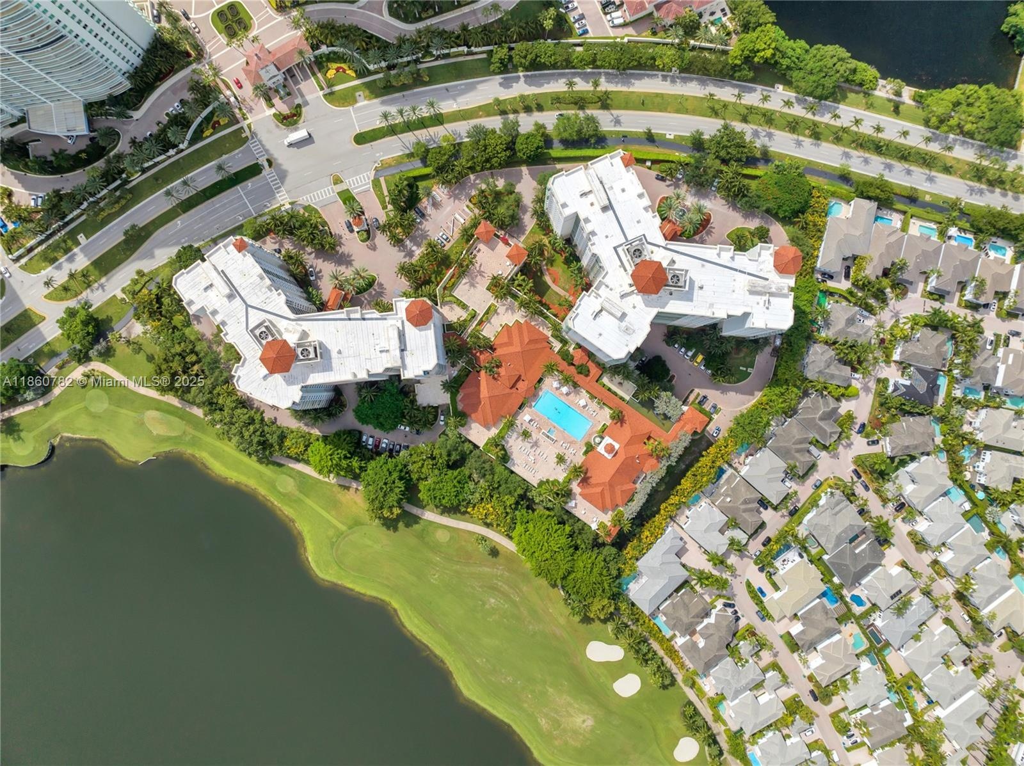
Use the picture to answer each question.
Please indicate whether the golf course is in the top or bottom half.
bottom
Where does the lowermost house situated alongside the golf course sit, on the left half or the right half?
right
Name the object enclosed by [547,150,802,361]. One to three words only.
building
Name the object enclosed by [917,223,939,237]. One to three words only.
swimming pool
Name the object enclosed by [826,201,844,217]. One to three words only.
swimming pool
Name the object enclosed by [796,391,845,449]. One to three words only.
house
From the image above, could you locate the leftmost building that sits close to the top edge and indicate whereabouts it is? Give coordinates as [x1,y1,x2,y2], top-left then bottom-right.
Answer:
[0,0,166,124]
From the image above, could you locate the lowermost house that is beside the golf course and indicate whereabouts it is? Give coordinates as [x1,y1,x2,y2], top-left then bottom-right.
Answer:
[753,707,811,766]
